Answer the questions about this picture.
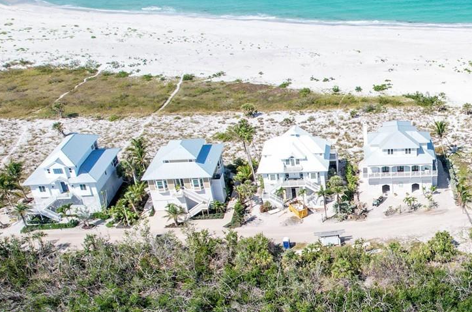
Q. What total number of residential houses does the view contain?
four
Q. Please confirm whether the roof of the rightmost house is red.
No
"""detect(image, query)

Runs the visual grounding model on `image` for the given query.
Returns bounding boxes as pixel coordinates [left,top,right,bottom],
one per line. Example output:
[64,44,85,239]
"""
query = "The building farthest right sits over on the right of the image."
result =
[362,122,441,194]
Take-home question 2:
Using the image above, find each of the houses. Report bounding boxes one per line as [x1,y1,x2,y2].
[255,126,345,218]
[362,122,441,194]
[22,126,123,228]
[141,136,235,222]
